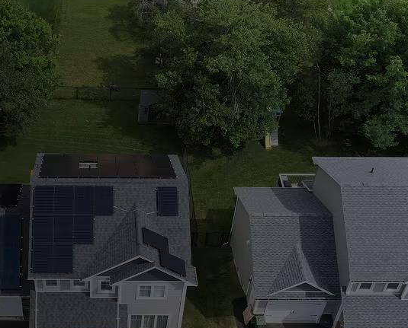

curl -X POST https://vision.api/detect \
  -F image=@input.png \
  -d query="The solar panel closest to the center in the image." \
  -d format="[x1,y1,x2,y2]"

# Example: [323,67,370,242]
[157,186,179,214]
